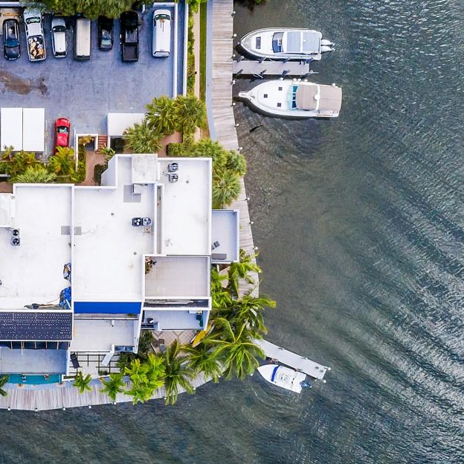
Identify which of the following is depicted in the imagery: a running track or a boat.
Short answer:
boat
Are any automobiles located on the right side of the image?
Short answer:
No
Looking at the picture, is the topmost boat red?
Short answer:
No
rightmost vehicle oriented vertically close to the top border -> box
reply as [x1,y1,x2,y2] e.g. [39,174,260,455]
[151,9,173,58]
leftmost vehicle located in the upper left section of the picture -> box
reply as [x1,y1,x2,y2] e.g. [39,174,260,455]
[1,19,21,62]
